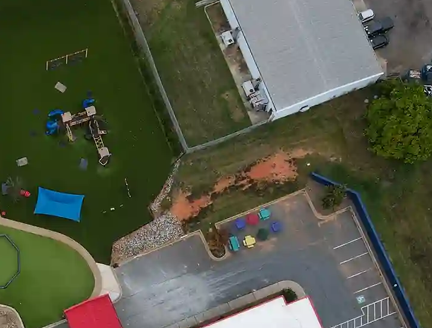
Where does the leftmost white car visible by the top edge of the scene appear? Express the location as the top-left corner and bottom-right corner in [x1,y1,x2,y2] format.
[358,6,379,23]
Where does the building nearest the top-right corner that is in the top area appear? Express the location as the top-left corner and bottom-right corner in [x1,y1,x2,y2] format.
[218,0,383,119]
